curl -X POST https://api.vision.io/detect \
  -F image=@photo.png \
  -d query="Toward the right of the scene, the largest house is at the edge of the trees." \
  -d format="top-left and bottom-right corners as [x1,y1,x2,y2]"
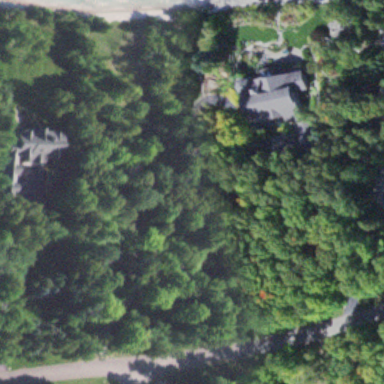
[244,68,310,124]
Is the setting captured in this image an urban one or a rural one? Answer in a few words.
rural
